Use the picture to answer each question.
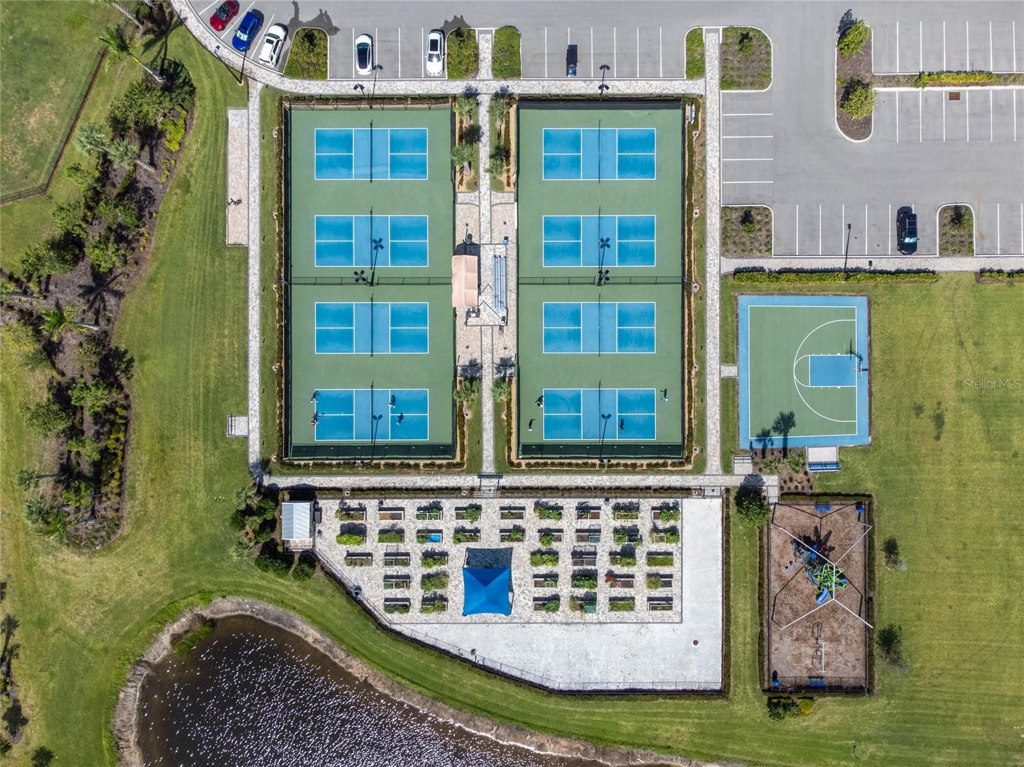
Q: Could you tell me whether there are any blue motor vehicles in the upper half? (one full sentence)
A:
Yes, there is a blue motor vehicle in the upper half.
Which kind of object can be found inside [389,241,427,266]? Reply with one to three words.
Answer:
sports court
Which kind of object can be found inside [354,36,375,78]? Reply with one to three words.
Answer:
car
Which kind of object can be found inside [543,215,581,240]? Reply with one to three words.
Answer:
sports court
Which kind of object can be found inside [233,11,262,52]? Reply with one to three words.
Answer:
car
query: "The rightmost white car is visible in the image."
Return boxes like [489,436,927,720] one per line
[426,34,446,78]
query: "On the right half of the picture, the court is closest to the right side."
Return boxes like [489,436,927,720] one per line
[739,295,871,449]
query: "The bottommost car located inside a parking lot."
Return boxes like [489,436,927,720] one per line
[897,211,921,254]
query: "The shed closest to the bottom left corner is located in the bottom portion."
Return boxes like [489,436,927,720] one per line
[282,503,313,540]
